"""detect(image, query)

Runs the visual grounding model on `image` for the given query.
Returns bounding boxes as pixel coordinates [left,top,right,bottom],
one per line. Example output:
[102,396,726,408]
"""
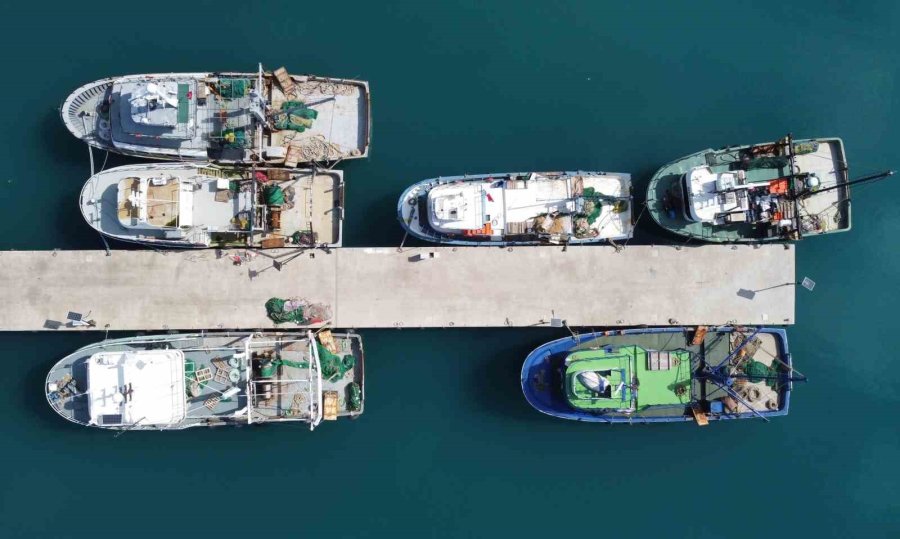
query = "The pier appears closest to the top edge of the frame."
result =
[0,245,795,331]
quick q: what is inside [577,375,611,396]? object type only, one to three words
boat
